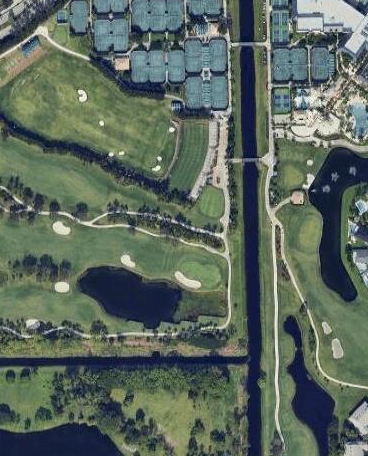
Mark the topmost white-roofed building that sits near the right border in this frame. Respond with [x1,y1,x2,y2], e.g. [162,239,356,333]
[297,0,366,32]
